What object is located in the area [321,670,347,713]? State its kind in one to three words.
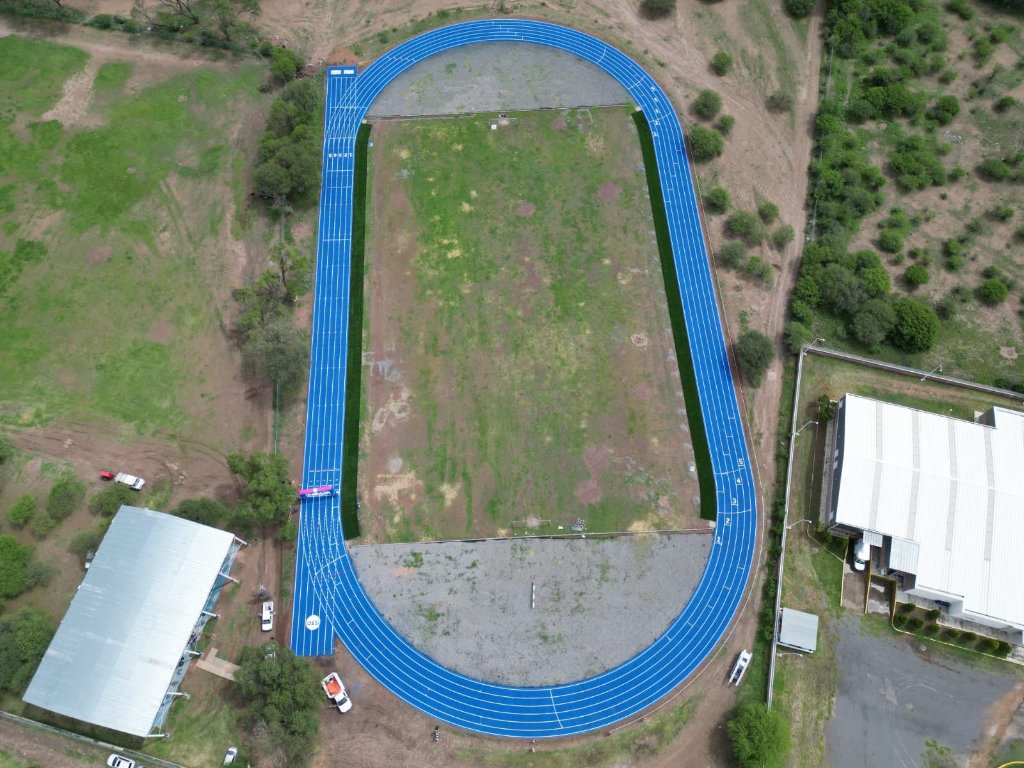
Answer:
truck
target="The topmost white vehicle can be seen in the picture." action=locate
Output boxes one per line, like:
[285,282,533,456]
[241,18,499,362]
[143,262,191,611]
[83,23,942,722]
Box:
[110,470,145,488]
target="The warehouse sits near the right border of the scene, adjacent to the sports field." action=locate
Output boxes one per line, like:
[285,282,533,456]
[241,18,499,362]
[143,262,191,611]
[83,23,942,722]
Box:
[823,392,1024,651]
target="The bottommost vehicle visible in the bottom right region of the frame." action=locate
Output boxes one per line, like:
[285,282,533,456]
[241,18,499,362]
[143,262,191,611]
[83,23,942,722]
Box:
[732,649,758,686]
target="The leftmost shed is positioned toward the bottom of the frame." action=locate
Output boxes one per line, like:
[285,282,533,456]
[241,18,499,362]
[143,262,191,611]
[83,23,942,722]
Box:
[779,607,819,653]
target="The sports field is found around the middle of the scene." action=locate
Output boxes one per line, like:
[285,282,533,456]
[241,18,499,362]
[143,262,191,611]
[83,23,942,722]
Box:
[352,106,710,544]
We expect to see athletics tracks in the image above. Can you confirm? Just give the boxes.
[291,19,757,738]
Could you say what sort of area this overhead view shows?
sports ground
